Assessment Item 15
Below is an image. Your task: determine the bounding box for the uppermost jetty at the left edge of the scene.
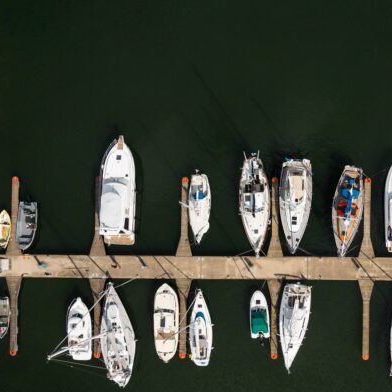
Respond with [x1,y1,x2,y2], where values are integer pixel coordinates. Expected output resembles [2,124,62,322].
[5,176,23,255]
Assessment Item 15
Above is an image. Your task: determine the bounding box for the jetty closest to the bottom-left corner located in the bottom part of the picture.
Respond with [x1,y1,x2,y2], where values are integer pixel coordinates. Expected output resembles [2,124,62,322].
[5,279,23,356]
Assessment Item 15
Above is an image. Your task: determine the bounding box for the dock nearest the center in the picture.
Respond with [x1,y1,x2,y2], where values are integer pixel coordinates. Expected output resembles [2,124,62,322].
[175,175,194,257]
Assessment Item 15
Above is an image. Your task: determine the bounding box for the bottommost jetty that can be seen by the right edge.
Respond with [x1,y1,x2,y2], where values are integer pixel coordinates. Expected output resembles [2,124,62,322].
[357,281,375,360]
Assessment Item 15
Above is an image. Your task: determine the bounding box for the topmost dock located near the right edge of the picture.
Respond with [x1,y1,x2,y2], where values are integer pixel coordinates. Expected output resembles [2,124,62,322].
[359,176,377,257]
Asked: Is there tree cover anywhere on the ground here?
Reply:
No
